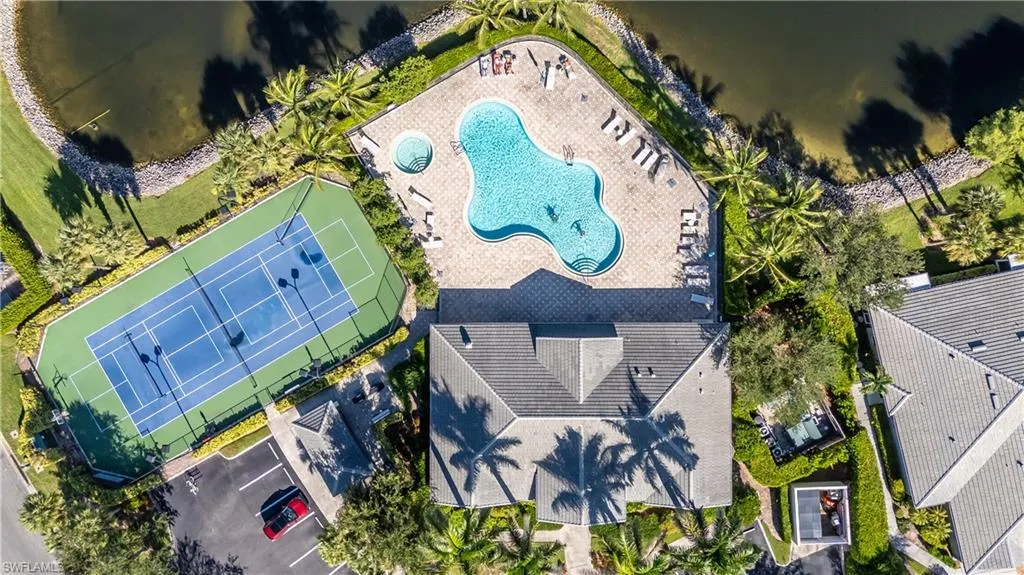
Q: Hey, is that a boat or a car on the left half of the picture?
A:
car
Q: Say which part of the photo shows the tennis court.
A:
left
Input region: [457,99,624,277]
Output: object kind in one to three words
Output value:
swimming pool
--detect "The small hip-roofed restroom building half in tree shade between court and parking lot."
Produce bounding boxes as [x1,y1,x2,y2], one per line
[291,400,375,495]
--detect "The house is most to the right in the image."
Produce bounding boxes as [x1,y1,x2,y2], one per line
[863,247,1024,575]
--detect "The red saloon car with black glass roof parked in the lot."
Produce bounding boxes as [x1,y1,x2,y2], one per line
[262,499,311,538]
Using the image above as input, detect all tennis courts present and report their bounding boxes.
[35,176,405,480]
